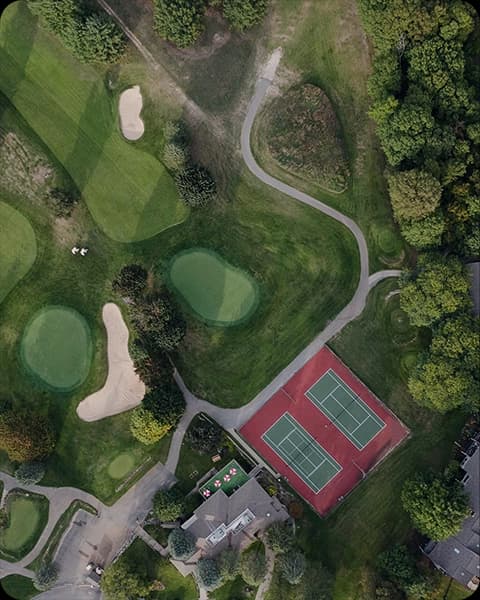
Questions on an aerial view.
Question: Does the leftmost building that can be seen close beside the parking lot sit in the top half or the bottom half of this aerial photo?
bottom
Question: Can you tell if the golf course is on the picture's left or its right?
left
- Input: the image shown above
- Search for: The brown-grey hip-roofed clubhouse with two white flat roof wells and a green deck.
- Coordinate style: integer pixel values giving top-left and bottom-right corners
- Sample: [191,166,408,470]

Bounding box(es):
[179,455,288,559]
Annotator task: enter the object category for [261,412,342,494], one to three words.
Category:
tennis court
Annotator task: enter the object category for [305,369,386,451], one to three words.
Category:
tennis court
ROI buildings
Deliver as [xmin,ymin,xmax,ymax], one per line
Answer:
[418,439,480,589]
[470,263,480,320]
[179,455,288,559]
